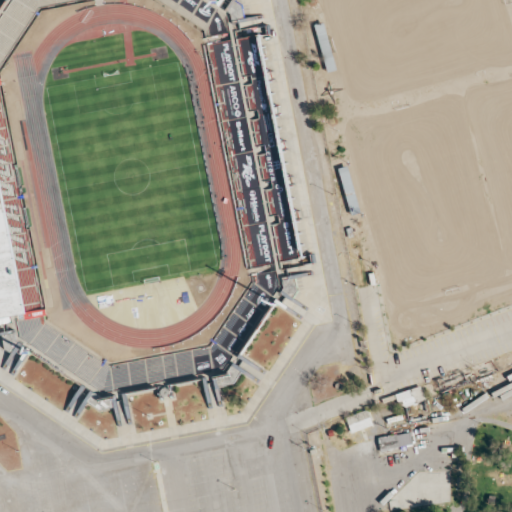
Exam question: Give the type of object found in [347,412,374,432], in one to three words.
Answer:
house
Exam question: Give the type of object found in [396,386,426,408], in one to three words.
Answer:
building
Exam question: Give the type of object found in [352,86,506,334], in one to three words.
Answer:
sports field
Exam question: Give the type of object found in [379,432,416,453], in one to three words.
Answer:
building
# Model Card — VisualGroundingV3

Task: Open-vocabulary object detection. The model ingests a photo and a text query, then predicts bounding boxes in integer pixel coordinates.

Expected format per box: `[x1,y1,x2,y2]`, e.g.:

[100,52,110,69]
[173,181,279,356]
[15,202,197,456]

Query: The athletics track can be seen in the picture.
[16,5,242,348]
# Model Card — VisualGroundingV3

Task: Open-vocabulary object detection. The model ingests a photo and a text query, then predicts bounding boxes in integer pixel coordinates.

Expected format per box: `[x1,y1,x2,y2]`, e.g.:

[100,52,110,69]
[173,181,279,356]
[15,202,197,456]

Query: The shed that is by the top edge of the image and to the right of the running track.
[314,24,336,72]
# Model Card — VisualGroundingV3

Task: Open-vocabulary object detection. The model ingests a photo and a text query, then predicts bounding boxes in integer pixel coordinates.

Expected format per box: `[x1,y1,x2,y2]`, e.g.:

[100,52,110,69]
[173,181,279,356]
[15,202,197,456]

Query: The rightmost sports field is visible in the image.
[470,72,512,268]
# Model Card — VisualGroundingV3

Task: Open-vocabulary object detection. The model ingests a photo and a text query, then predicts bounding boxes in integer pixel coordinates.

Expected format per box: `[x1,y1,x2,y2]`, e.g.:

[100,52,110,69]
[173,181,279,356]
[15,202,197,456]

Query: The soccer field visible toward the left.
[45,26,222,294]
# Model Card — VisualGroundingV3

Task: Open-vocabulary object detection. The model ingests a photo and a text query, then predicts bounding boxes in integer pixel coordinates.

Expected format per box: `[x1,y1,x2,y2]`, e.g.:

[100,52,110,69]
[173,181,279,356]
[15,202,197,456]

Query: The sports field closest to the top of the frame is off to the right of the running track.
[330,0,512,112]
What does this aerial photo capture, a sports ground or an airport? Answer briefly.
sports ground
